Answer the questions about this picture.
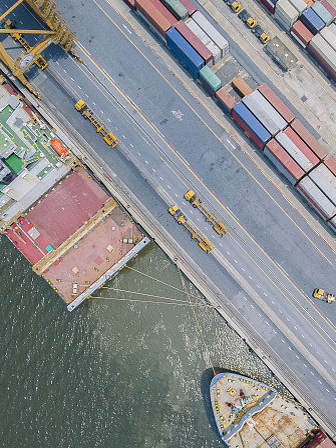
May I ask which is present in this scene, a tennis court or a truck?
truck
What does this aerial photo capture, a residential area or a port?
port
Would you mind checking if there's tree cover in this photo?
No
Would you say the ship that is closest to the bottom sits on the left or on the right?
right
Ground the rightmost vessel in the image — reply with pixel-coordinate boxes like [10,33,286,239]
[209,371,336,448]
